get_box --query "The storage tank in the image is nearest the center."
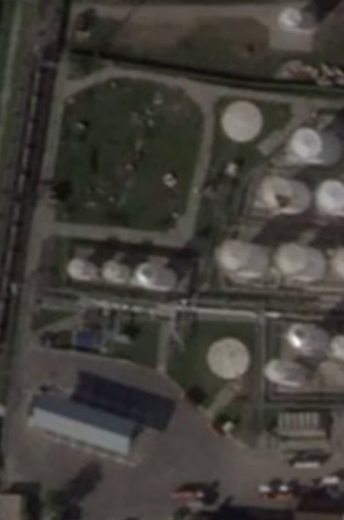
[133,262,179,294]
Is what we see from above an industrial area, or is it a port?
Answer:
industrial area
